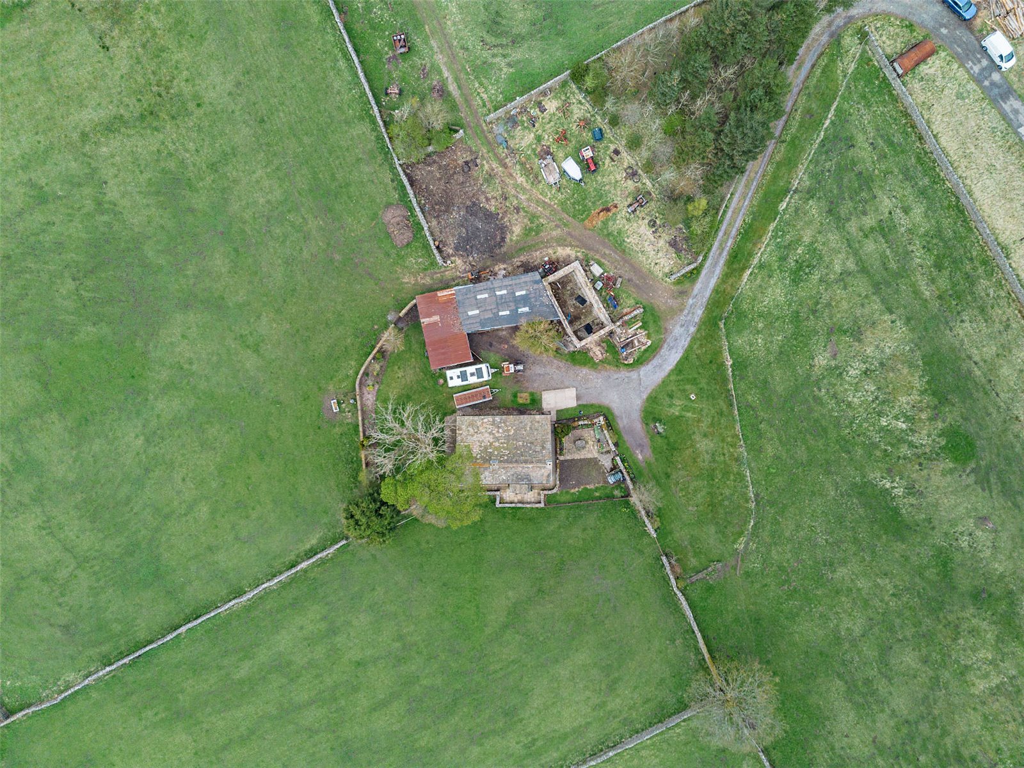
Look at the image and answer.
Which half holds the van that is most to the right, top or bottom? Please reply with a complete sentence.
The top half of the photo is where the van that is most to the right is.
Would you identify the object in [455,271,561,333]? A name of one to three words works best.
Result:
barn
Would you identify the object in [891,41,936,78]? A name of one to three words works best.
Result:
trailer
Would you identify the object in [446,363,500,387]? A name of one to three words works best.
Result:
camper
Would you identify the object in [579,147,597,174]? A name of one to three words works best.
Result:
work vehicle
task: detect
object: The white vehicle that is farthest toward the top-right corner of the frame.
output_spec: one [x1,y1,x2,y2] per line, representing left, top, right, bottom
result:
[981,30,1014,71]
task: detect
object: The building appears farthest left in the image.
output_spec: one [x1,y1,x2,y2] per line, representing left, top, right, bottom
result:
[416,288,474,369]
